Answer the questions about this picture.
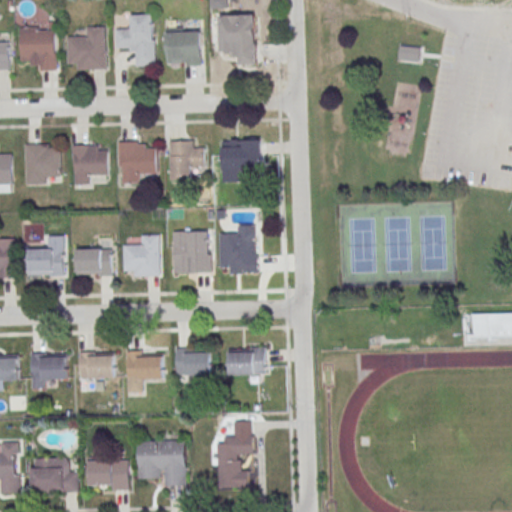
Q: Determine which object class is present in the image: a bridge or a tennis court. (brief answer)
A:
tennis court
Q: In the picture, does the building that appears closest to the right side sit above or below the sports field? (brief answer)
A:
above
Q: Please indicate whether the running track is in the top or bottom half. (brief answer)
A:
bottom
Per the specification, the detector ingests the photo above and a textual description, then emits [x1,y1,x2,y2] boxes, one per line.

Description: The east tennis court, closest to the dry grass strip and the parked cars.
[420,216,448,272]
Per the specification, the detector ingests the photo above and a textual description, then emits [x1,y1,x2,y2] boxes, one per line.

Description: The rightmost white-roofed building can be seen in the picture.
[466,312,512,346]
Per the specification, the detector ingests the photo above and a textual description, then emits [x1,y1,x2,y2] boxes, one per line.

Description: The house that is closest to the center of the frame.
[220,224,259,274]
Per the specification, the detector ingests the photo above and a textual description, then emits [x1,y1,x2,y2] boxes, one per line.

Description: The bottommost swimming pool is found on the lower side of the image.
[44,430,77,448]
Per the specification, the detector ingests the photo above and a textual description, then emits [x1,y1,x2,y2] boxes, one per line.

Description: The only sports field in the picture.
[355,366,512,512]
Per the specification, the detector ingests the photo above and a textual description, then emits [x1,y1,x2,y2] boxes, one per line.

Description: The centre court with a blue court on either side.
[383,217,412,273]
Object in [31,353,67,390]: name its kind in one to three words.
house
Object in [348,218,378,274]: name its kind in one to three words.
tennis court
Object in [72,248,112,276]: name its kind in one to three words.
house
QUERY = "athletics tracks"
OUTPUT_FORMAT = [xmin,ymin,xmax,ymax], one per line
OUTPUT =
[339,350,512,512]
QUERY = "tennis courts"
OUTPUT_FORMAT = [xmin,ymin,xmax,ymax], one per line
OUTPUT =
[420,216,448,272]
[348,218,378,274]
[383,217,412,273]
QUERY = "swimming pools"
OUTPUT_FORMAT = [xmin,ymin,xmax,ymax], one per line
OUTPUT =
[232,212,255,224]
[18,0,36,18]
[0,398,10,413]
[44,430,77,448]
